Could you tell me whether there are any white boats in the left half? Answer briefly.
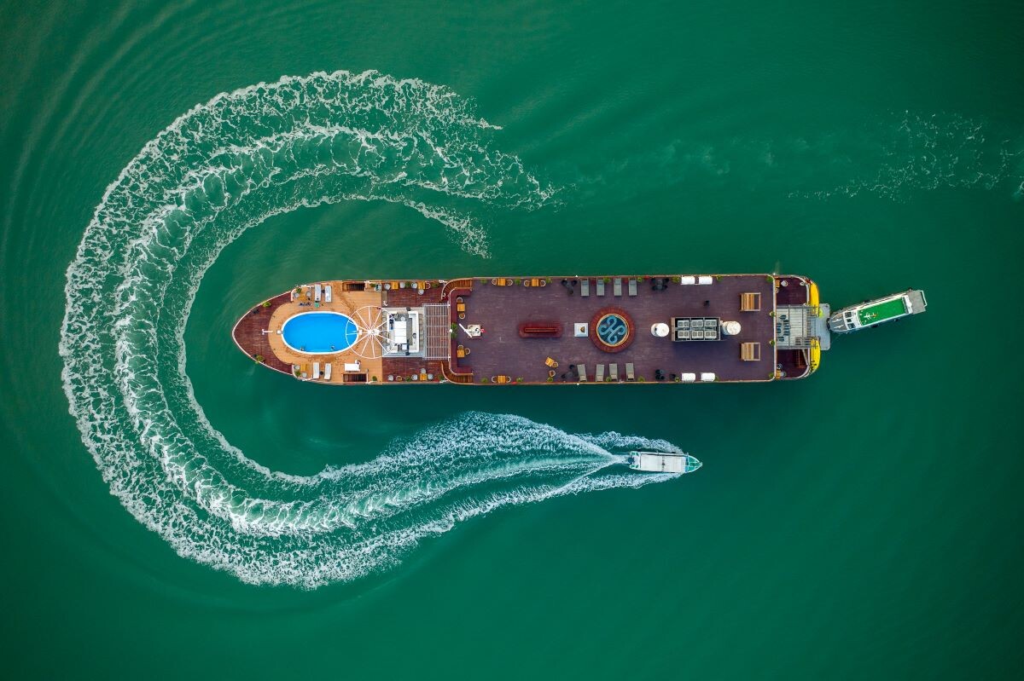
No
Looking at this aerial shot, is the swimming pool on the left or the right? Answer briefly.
left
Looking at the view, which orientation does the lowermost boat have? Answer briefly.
from side to side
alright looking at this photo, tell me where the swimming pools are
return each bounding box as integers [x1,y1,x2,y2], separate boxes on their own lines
[276,311,362,354]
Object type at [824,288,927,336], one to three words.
boat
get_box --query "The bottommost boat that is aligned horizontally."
[627,449,702,474]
